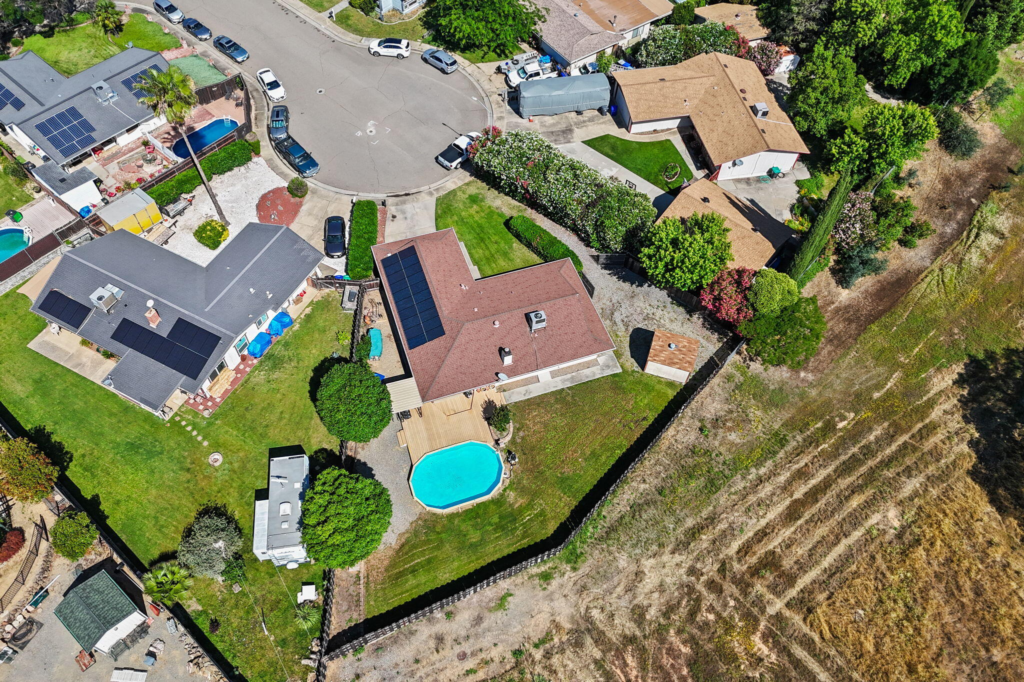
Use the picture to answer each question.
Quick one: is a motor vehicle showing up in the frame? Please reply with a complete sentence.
Yes, the frame does contain a motor vehicle.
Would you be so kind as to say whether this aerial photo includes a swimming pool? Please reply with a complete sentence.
Yes, a swimming pool can be made out from above.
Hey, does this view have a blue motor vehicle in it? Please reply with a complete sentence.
Yes, there's a blue motor vehicle down there.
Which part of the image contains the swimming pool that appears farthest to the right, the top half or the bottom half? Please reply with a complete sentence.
It is in the bottom half that the swimming pool that appears farthest to the right appears.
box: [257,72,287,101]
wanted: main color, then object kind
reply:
white car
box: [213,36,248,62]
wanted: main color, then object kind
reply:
blue car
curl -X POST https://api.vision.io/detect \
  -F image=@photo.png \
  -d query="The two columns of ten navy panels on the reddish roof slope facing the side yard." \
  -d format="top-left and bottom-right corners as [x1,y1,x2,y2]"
[380,245,445,348]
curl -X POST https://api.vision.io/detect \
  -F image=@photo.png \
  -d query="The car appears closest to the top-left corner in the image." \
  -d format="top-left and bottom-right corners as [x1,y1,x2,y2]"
[156,0,184,23]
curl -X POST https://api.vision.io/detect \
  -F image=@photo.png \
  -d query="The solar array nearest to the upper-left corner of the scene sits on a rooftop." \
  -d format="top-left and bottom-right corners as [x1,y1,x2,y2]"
[0,84,23,115]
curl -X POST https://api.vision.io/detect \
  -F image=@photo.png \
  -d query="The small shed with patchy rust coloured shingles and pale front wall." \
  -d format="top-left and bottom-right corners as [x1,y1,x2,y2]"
[644,329,700,387]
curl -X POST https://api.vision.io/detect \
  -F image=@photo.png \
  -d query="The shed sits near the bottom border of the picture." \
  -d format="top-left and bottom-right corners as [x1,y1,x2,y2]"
[53,570,146,658]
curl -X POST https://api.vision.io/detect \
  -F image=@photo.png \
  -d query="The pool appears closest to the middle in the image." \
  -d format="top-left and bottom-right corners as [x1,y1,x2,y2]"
[409,440,505,518]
